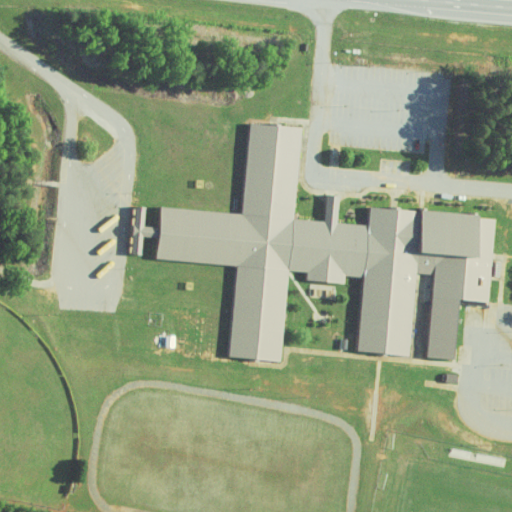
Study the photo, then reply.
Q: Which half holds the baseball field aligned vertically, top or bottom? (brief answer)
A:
bottom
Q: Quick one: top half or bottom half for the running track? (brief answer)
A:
bottom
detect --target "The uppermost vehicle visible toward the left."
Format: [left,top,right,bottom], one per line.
[99,215,120,233]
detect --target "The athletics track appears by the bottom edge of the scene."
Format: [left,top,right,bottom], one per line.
[87,380,362,512]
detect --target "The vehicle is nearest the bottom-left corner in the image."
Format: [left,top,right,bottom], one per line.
[96,260,115,278]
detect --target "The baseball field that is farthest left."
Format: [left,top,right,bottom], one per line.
[0,302,78,507]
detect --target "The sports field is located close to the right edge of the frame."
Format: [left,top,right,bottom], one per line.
[400,462,512,512]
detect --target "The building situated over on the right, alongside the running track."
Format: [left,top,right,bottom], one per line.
[156,124,498,363]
